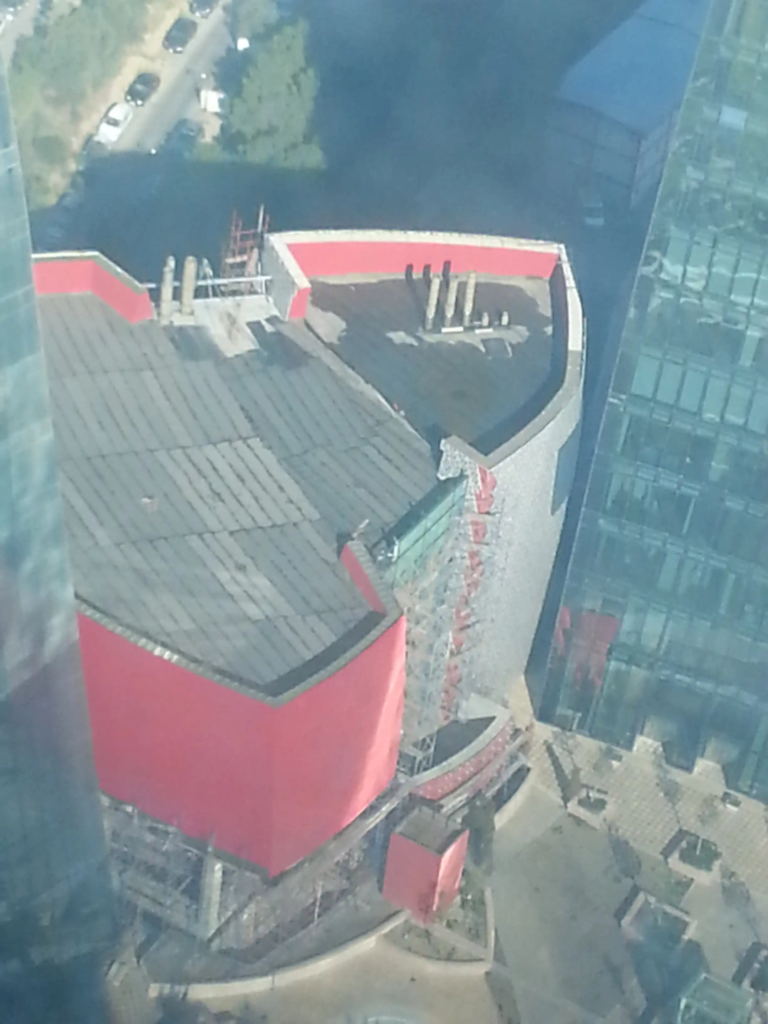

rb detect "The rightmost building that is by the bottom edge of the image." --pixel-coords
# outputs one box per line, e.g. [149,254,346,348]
[671,973,754,1024]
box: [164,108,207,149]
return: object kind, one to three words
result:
car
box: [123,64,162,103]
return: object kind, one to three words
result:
car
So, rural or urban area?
urban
